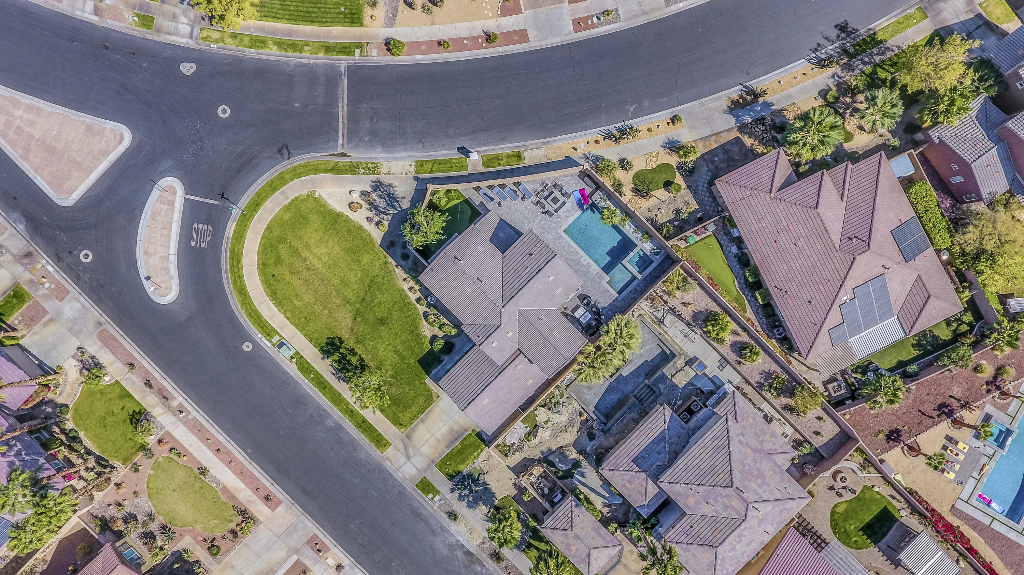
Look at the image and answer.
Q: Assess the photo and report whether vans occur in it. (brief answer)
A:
No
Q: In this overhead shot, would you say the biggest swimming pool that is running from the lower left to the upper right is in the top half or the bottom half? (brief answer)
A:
bottom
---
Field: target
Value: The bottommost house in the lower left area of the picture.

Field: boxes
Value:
[78,535,157,575]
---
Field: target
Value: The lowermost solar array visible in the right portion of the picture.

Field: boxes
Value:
[829,274,895,347]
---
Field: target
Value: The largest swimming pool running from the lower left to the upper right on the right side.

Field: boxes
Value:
[590,348,682,431]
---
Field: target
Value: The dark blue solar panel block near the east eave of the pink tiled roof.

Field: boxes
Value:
[892,216,933,263]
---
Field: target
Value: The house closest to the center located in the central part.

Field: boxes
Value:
[419,210,589,436]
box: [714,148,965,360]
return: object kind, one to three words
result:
house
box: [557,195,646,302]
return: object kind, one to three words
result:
swimming pool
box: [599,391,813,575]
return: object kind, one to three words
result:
house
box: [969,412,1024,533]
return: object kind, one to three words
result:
swimming pool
